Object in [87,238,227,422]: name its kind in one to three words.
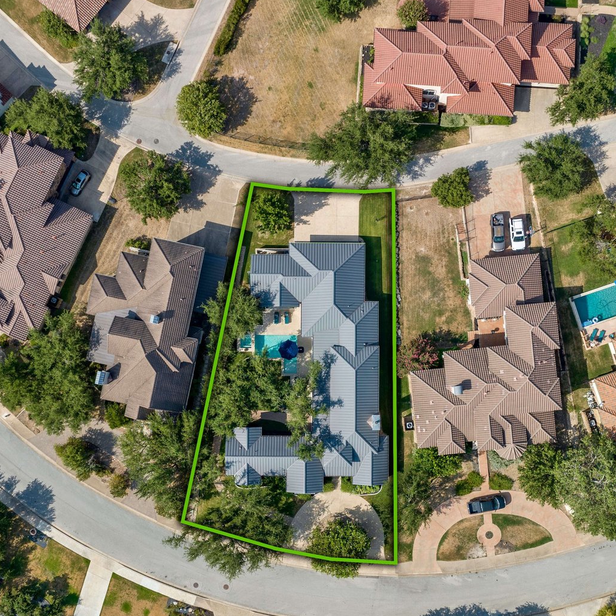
house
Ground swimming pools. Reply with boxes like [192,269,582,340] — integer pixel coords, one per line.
[238,333,300,376]
[572,284,616,330]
